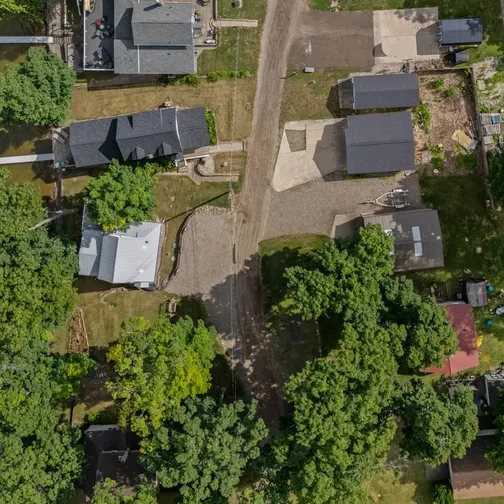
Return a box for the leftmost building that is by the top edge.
[82,0,205,74]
